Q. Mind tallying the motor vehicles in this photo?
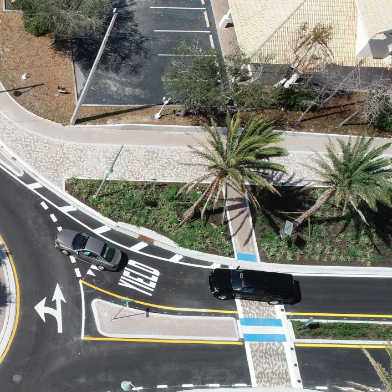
2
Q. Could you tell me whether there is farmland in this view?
No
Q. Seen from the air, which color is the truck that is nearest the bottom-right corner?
black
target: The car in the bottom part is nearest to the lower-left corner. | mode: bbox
[55,229,122,271]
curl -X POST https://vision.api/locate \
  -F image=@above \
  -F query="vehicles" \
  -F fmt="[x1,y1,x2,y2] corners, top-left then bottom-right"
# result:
[207,266,294,305]
[55,229,122,271]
